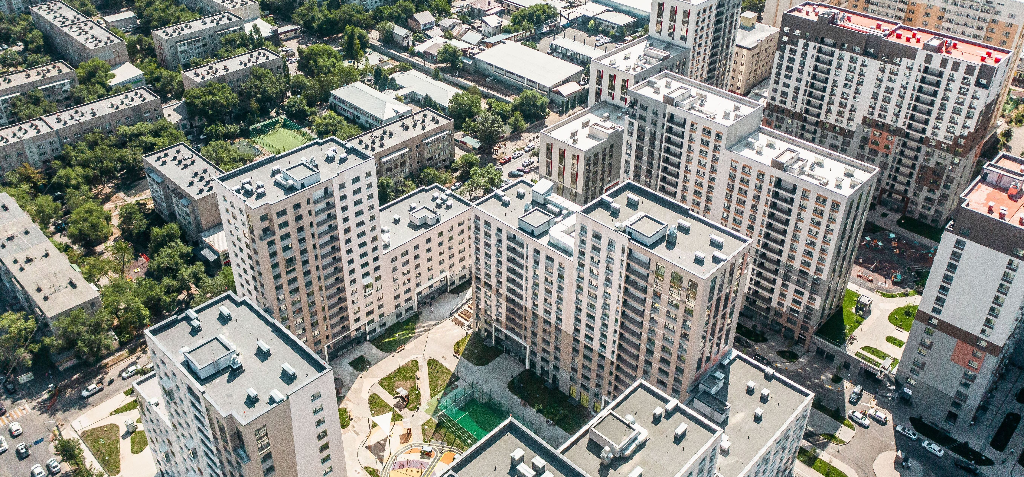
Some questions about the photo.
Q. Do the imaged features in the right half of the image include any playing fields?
No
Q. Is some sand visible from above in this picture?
No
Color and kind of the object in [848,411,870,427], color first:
white car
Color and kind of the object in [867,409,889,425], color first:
white car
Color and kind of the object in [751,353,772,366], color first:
black vehicle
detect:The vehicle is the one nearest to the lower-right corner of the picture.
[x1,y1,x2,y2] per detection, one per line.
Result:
[955,458,981,474]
